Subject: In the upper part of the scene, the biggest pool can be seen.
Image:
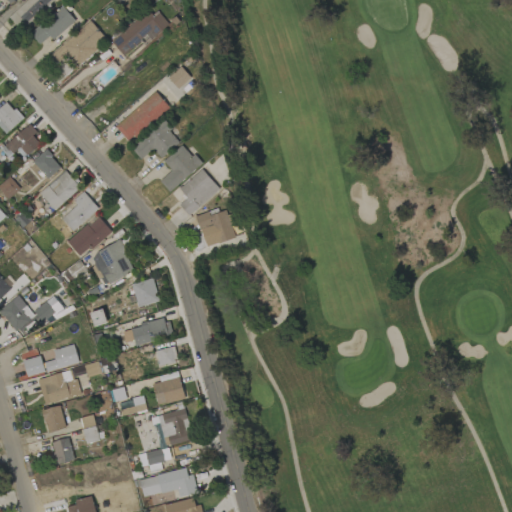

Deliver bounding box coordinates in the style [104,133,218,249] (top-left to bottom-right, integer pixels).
[92,62,121,88]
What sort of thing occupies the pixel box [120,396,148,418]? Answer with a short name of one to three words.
shed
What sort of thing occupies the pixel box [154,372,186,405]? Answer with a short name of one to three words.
house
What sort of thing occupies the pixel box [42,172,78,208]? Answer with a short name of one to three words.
house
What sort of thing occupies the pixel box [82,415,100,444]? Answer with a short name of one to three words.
shed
